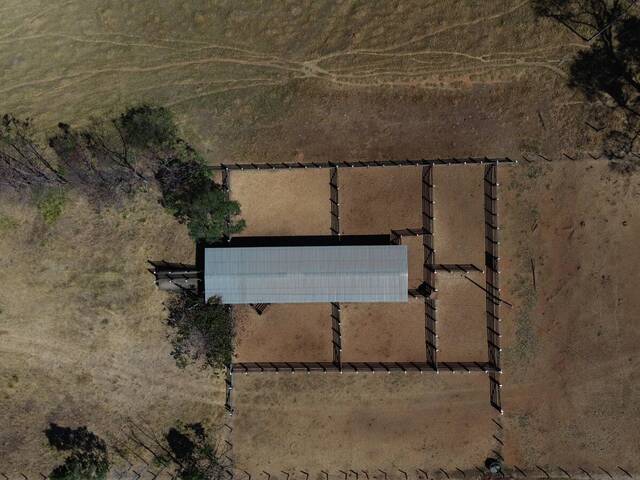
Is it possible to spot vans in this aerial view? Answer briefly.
No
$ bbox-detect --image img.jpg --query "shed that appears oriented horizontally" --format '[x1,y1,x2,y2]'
[202,245,410,304]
